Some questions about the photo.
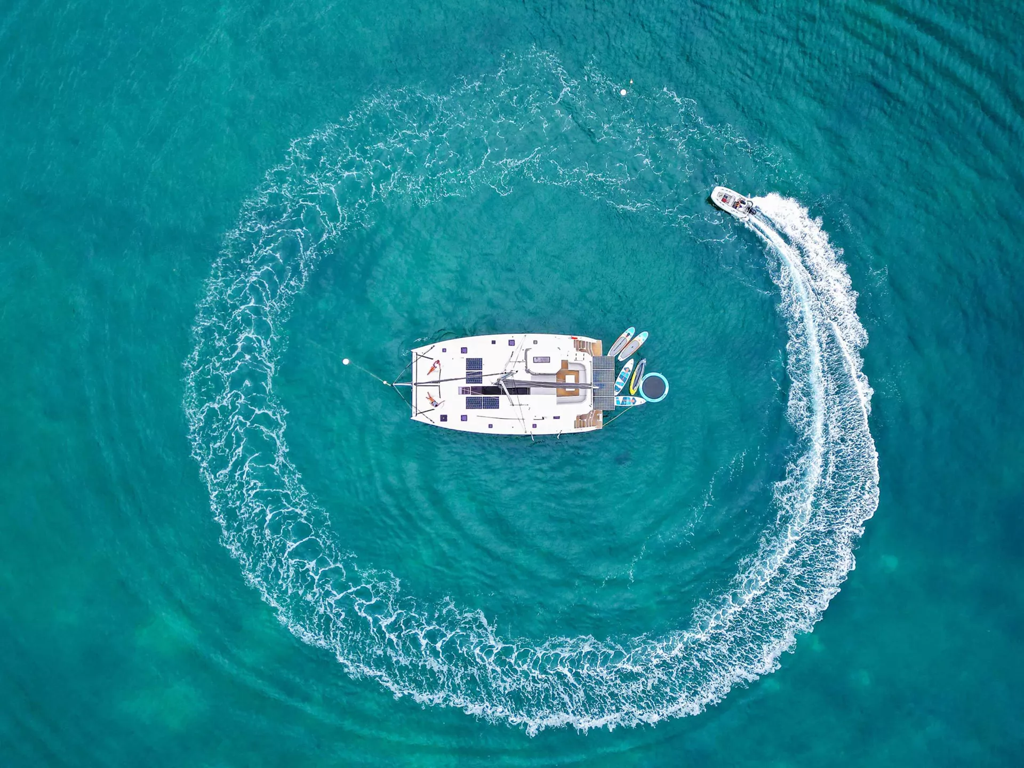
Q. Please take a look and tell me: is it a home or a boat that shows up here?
boat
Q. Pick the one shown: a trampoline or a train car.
trampoline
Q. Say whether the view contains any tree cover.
No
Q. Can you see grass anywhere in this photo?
No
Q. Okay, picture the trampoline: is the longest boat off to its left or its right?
to the left of it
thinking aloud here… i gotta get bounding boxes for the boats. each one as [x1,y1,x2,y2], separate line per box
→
[714,188,757,219]
[630,358,647,395]
[392,333,615,436]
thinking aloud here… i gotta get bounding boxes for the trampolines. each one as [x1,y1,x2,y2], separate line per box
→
[640,373,669,402]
